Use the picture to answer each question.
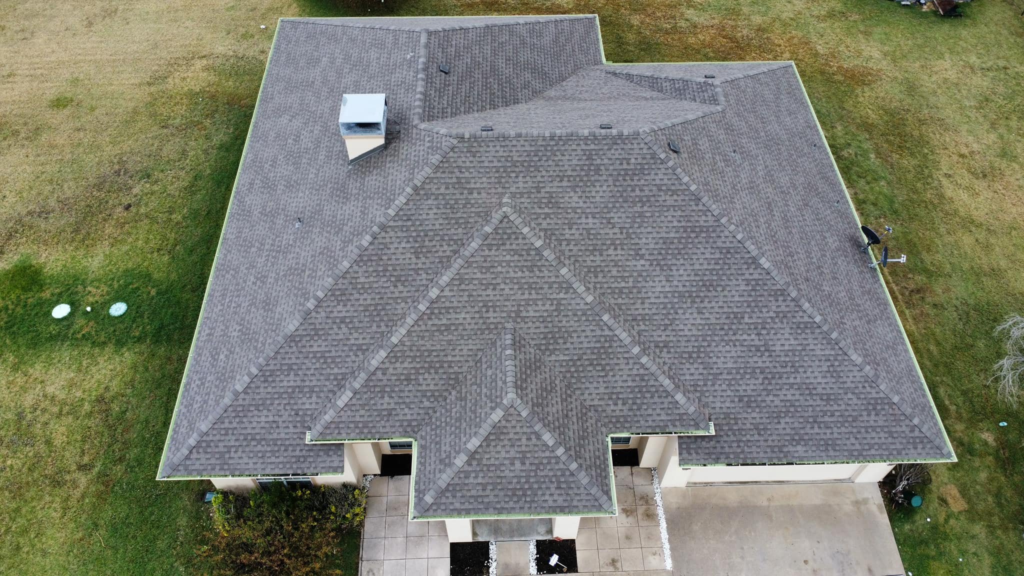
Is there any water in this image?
No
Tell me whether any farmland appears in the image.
No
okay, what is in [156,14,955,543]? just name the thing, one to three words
house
